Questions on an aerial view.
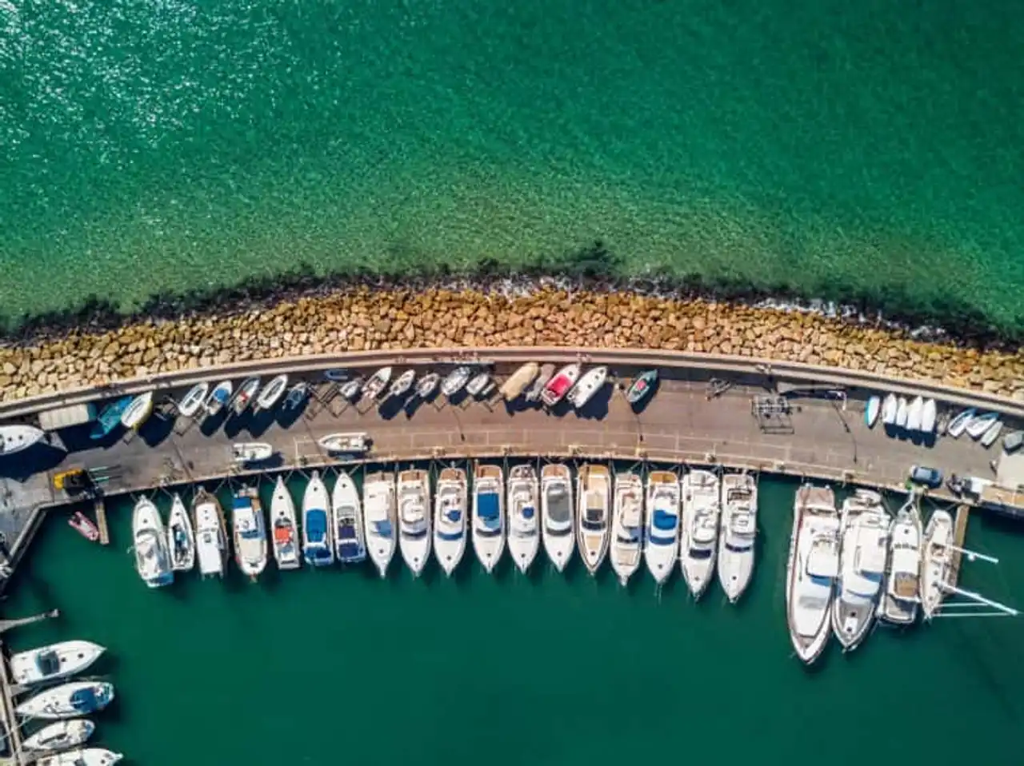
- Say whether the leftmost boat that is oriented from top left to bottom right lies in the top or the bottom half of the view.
bottom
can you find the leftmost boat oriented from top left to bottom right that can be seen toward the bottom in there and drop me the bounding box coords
[65,510,100,539]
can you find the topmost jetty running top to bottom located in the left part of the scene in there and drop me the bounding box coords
[94,497,112,545]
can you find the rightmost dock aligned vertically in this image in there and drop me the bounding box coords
[946,502,969,591]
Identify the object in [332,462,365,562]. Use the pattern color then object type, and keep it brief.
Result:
white boat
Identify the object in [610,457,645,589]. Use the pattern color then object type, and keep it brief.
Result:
white boat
